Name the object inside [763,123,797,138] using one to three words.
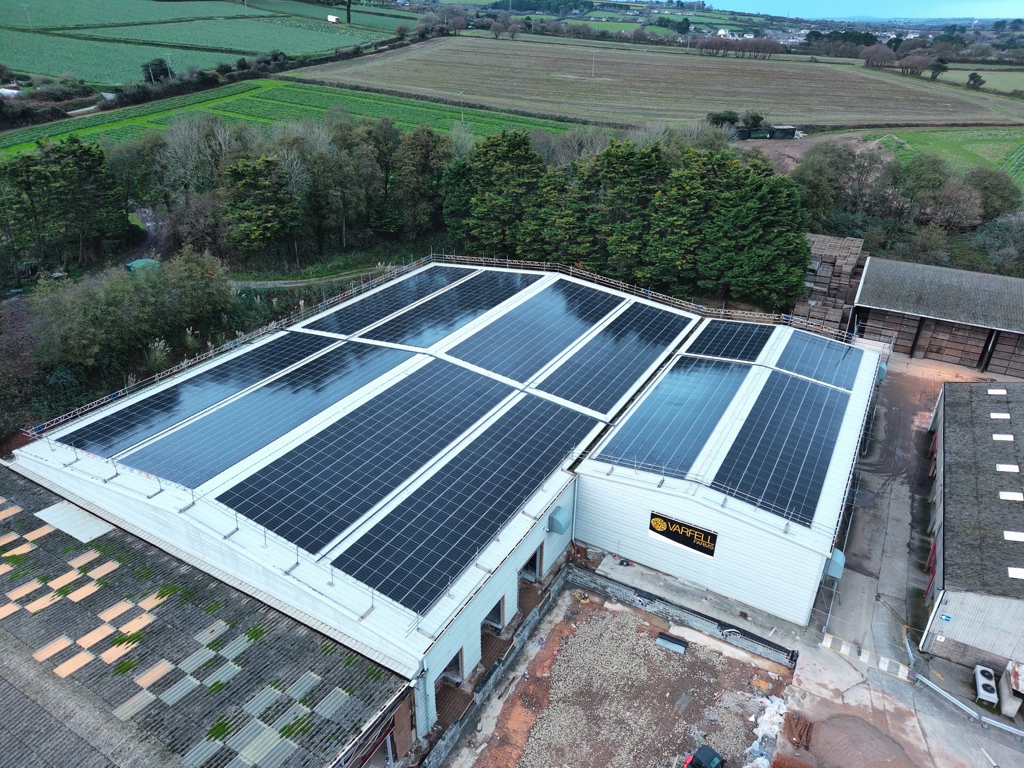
shed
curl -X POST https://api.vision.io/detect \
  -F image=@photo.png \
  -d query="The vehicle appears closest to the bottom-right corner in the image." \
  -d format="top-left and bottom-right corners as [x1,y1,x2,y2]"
[686,746,730,768]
